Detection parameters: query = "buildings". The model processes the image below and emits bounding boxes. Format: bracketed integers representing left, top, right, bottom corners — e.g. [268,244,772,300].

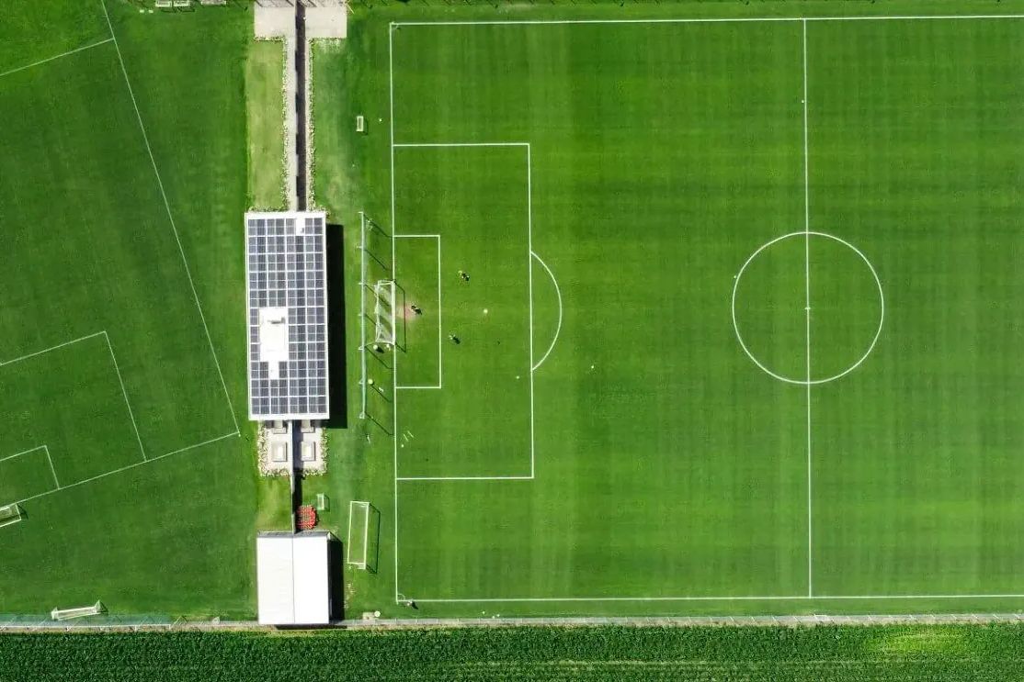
[258,533,332,626]
[245,211,333,421]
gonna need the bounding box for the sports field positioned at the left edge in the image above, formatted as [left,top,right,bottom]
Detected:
[0,0,239,507]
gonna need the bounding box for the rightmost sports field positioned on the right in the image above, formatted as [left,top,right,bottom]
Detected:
[390,15,1024,603]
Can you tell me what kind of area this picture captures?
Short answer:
sports ground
